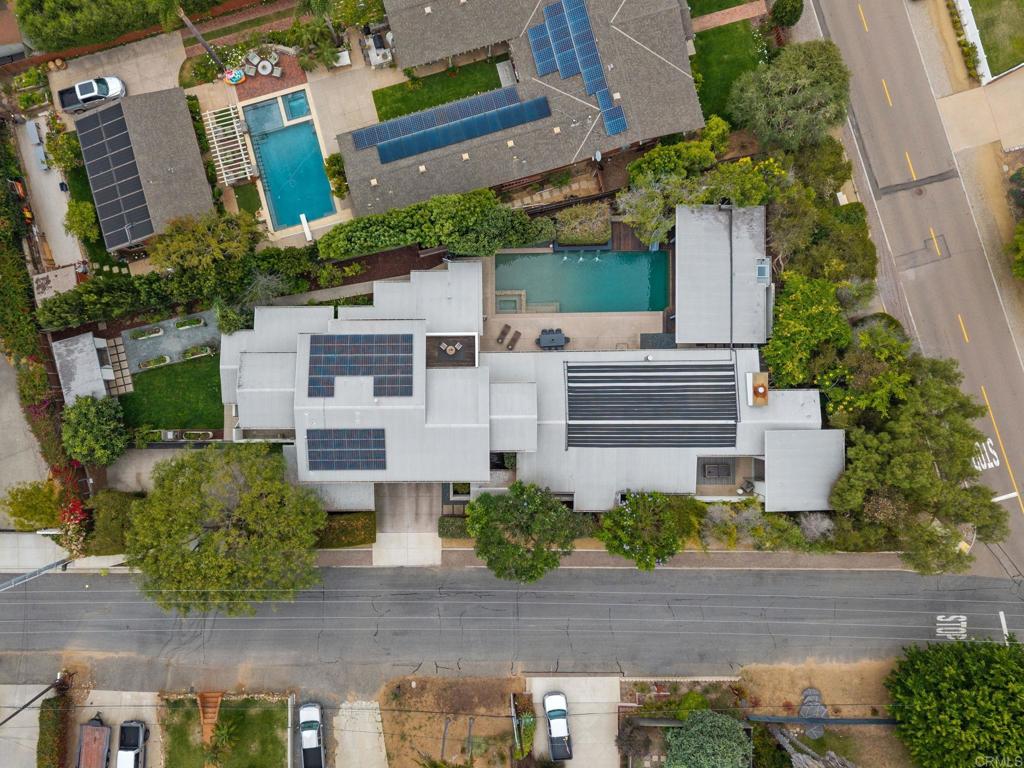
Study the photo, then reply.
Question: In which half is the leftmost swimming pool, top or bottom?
top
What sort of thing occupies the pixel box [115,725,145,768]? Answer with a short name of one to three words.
truck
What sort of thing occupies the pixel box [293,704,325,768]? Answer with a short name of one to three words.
truck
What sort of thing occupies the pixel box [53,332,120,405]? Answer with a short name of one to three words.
shed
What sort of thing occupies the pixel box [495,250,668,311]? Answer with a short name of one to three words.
swimming pool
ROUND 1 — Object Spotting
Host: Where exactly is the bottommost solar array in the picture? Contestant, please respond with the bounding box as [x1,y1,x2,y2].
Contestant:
[307,429,386,470]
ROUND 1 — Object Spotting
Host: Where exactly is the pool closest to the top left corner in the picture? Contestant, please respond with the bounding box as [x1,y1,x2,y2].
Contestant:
[243,88,335,228]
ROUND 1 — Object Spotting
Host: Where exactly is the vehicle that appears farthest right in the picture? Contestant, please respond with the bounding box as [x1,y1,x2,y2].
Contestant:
[541,690,572,763]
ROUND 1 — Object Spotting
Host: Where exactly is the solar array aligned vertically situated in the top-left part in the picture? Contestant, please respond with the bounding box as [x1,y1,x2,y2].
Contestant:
[77,105,151,247]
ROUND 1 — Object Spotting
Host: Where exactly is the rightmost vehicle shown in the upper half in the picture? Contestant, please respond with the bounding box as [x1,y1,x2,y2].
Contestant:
[49,68,126,110]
